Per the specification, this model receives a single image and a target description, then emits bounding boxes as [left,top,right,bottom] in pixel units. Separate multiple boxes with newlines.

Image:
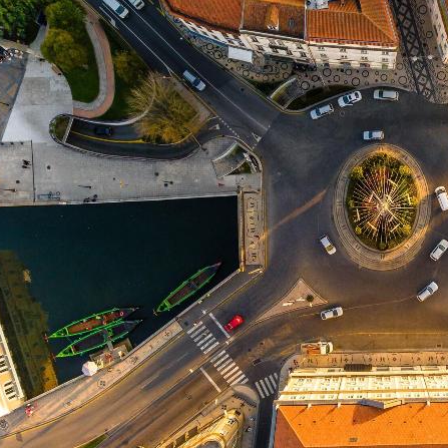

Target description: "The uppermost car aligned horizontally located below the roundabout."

[318,306,344,320]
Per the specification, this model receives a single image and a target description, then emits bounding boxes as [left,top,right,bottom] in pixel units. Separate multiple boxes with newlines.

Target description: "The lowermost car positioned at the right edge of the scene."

[415,281,439,303]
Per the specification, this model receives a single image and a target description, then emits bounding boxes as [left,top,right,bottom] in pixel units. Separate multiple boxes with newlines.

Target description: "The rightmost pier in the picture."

[89,340,134,366]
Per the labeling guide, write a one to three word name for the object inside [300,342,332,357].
vehicle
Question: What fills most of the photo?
paved ground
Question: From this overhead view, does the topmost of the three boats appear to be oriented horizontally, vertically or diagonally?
diagonally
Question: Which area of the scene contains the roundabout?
right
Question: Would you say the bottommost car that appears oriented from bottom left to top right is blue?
No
